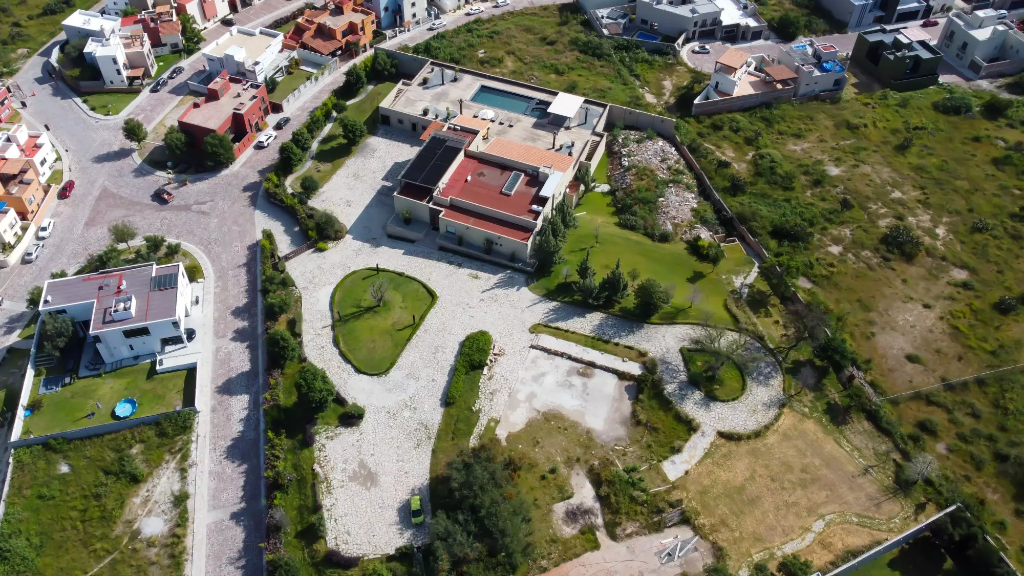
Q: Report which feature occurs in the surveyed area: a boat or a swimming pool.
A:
swimming pool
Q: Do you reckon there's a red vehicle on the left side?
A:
Yes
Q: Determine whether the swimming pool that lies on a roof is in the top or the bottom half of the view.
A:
top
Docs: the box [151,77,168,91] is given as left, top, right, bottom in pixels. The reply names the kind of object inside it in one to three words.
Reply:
car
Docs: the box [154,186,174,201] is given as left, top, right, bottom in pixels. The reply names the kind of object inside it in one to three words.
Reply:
vehicle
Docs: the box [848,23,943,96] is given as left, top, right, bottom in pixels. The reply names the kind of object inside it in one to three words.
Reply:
building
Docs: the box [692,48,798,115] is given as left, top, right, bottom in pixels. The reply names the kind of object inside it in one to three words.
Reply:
house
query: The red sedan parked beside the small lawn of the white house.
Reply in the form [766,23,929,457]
[58,181,75,197]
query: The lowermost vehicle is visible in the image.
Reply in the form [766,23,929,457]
[410,497,424,522]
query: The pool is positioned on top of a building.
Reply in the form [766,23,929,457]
[466,83,554,122]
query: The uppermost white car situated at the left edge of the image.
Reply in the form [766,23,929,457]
[37,219,55,237]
